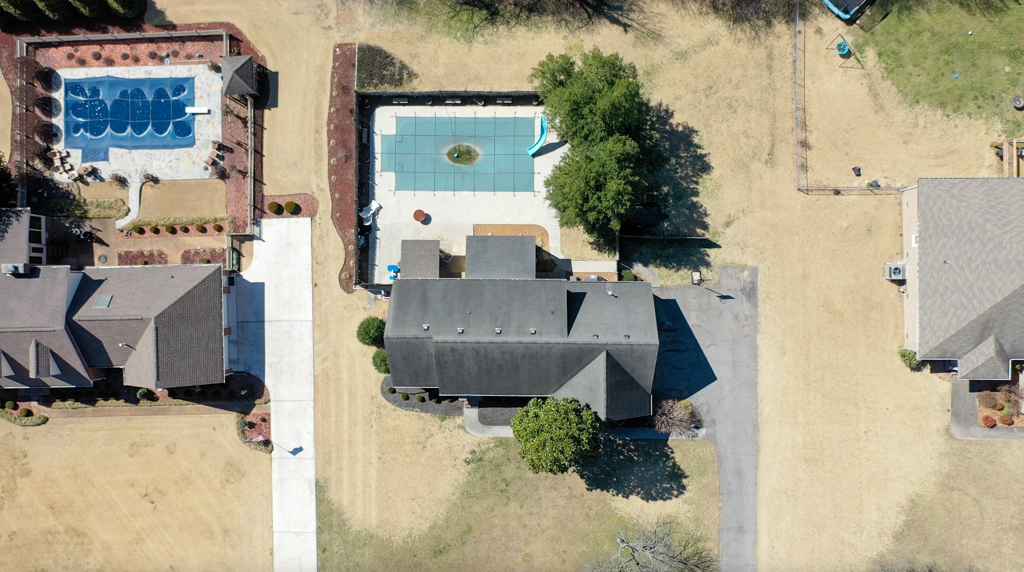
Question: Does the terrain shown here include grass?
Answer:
Yes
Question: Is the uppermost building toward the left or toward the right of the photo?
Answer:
left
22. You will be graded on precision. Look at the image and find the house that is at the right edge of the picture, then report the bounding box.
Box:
[903,177,1024,381]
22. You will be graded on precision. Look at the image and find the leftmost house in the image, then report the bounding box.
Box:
[0,206,233,397]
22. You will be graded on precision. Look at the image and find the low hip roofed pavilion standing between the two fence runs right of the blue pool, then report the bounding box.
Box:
[222,55,261,98]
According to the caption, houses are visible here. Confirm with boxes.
[0,206,233,397]
[384,278,660,422]
[903,177,1024,381]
